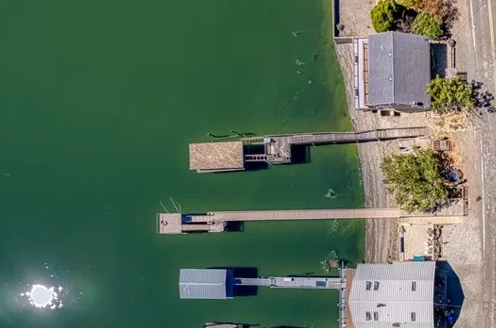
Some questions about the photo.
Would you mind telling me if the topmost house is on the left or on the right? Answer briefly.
right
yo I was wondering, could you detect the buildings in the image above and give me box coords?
[354,31,430,113]
[179,269,235,299]
[347,261,441,328]
[189,142,250,174]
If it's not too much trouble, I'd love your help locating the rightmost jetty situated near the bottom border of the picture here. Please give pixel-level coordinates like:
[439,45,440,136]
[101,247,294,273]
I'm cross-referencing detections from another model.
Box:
[235,265,350,328]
